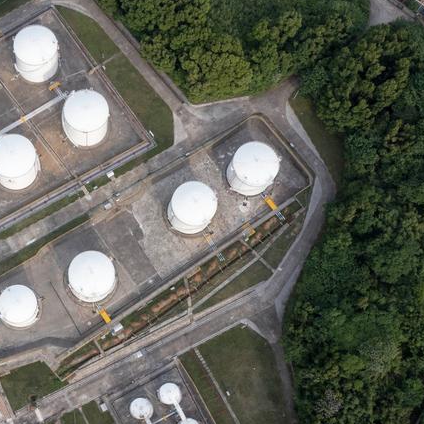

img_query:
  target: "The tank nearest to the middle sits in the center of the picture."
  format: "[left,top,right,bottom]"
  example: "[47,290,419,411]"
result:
[163,180,219,238]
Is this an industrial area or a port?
industrial area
